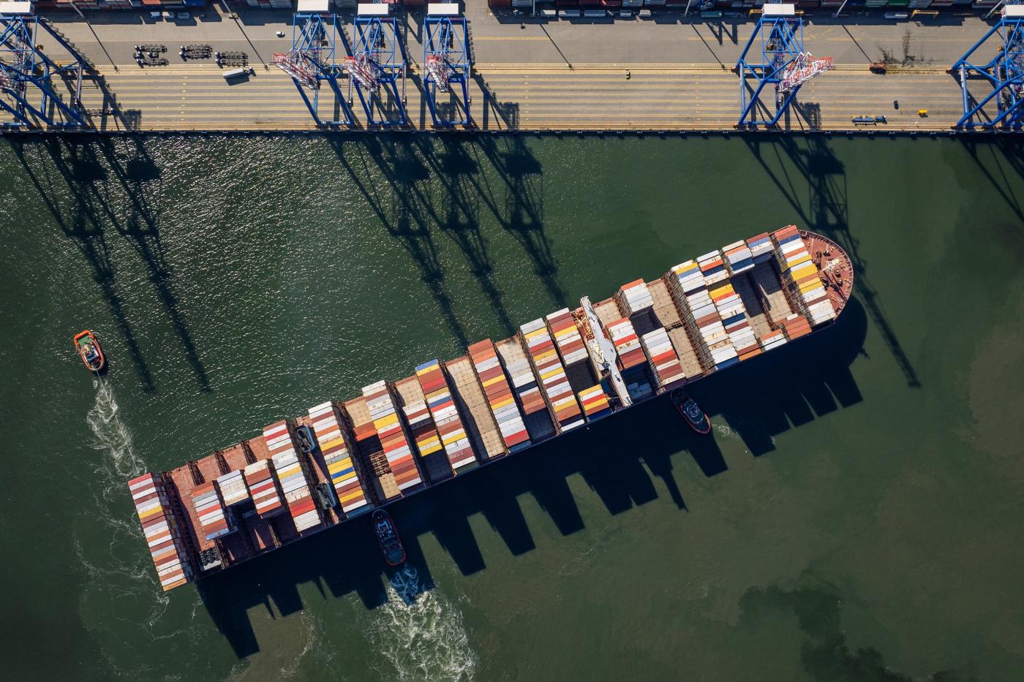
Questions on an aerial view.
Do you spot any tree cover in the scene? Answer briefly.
No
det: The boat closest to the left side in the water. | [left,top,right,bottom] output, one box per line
[71,325,103,373]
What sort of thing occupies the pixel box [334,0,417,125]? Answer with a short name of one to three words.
container crane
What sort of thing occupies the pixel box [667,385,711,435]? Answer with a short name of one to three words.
boat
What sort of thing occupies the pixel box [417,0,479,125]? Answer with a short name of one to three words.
container crane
